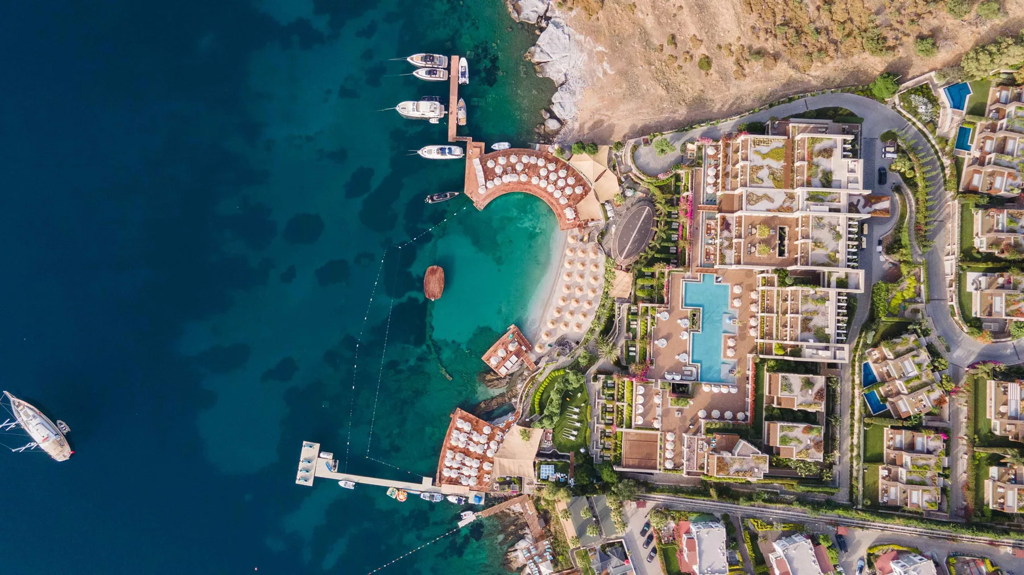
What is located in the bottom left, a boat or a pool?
boat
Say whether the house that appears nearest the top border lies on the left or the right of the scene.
right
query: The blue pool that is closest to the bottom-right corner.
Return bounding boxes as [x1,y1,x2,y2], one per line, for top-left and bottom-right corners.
[862,390,889,415]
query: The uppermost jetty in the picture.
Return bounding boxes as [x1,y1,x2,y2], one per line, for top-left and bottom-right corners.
[449,55,472,142]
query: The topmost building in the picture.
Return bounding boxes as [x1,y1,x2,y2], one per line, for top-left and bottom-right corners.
[983,86,1024,123]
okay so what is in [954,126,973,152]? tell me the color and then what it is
blue swimming pool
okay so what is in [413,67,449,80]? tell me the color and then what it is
white boat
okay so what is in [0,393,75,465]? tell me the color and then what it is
white boat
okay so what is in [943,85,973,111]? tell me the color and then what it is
blue swimming pool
